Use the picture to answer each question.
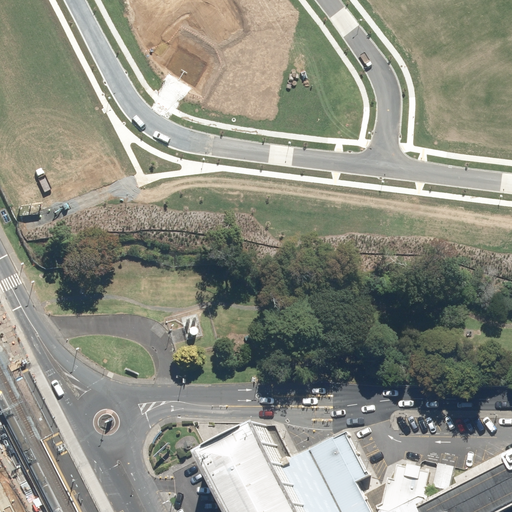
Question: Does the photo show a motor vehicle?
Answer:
Yes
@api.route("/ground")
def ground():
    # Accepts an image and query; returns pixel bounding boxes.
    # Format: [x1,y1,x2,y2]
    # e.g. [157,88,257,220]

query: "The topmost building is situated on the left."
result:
[182,314,203,340]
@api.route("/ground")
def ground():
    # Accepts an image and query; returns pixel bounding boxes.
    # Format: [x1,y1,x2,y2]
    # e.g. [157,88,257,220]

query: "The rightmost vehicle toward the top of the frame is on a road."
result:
[359,51,374,71]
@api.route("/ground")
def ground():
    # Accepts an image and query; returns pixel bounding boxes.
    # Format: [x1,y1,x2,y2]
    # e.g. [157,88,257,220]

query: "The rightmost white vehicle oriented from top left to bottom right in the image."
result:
[482,416,498,436]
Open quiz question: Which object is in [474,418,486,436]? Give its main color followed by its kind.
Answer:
blue vehicle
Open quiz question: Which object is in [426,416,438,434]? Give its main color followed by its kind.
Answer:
white vehicle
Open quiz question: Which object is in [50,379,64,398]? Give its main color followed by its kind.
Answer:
white vehicle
